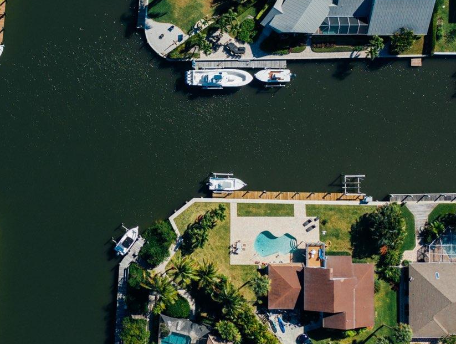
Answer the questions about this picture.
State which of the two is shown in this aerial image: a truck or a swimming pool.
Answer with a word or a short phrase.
swimming pool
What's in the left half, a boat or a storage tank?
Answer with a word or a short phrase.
boat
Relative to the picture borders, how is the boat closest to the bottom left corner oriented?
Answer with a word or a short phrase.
at an angle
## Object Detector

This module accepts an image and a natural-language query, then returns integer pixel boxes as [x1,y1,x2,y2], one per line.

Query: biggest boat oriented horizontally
[186,70,254,86]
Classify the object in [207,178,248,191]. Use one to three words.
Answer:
boat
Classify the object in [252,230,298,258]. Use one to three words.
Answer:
swimming pool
